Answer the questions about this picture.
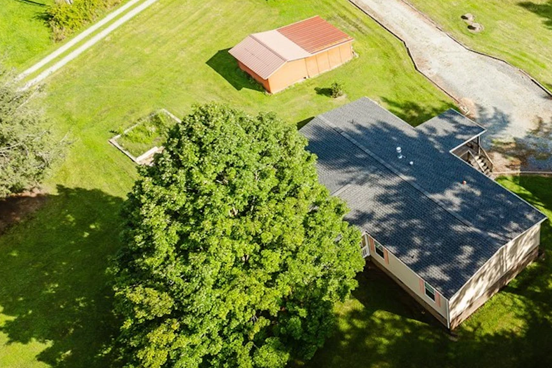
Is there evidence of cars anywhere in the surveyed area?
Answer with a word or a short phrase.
No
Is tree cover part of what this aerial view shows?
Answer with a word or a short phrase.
Yes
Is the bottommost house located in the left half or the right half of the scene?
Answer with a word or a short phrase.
right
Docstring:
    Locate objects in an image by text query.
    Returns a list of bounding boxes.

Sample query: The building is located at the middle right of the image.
[288,97,548,333]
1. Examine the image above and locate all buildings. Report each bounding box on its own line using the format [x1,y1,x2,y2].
[288,97,548,333]
[230,16,354,95]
